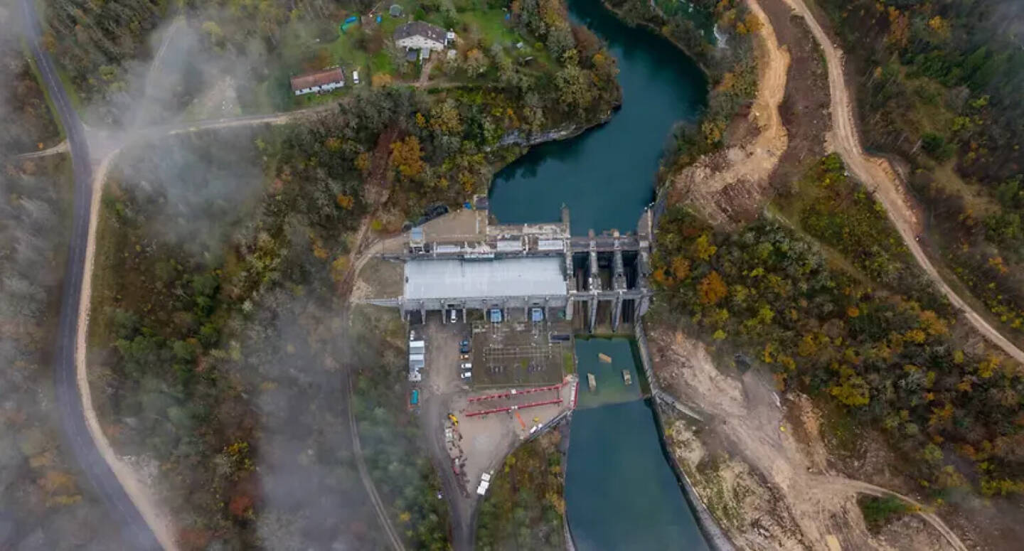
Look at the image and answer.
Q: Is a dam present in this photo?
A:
Yes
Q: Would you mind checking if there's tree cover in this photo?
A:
Yes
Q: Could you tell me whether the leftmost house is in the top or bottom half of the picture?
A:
top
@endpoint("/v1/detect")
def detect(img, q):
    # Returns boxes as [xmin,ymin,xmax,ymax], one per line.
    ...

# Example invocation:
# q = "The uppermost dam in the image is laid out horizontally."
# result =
[403,202,571,257]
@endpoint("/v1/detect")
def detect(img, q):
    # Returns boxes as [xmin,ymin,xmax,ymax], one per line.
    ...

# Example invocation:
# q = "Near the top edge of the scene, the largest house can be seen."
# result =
[394,20,447,62]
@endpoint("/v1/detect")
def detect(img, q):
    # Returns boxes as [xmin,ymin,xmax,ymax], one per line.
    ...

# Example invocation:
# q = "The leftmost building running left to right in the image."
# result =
[291,69,344,96]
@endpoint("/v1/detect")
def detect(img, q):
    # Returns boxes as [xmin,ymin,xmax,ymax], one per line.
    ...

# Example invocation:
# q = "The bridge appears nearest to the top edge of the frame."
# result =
[573,228,639,251]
